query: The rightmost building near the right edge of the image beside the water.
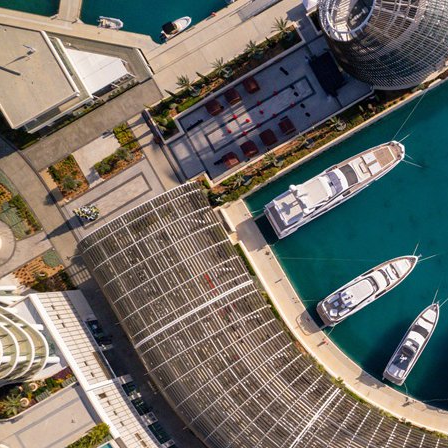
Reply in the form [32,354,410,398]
[316,0,448,89]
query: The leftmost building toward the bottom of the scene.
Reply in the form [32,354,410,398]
[0,305,55,390]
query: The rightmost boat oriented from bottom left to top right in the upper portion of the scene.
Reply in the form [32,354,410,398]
[248,87,430,246]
